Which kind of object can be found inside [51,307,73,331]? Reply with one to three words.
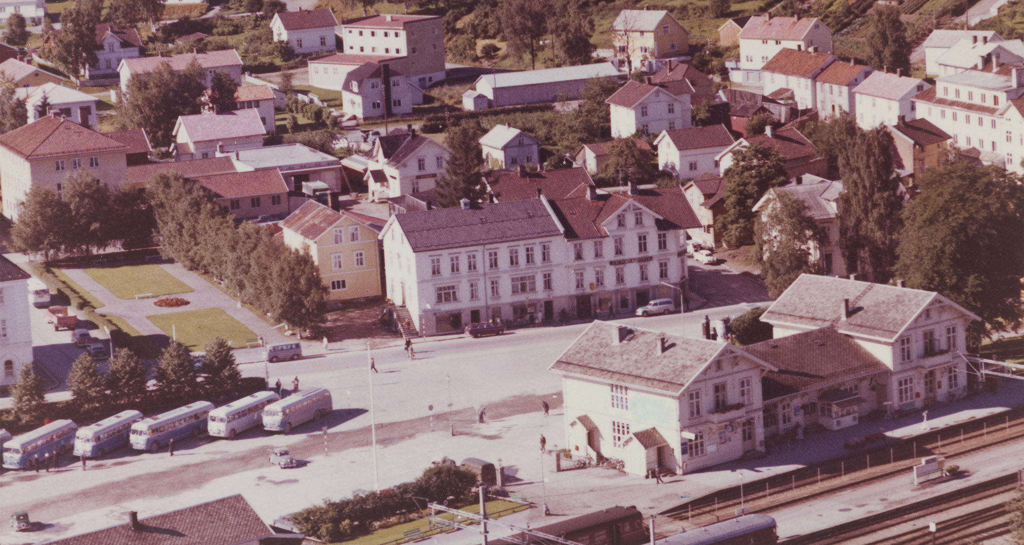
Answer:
truck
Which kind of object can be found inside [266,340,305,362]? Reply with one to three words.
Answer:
vehicle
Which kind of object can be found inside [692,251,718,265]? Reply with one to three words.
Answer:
car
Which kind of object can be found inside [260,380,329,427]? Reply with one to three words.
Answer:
bus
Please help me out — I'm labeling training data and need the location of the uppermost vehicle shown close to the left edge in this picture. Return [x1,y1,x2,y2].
[28,282,50,309]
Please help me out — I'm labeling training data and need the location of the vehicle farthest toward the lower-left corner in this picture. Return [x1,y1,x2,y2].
[5,510,36,531]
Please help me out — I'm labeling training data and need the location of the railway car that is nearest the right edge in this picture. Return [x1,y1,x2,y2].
[657,514,786,545]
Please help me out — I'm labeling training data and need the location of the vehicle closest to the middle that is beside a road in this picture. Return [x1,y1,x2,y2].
[468,324,511,339]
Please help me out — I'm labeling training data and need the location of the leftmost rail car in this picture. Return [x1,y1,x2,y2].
[463,500,650,545]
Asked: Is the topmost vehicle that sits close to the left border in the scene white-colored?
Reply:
Yes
